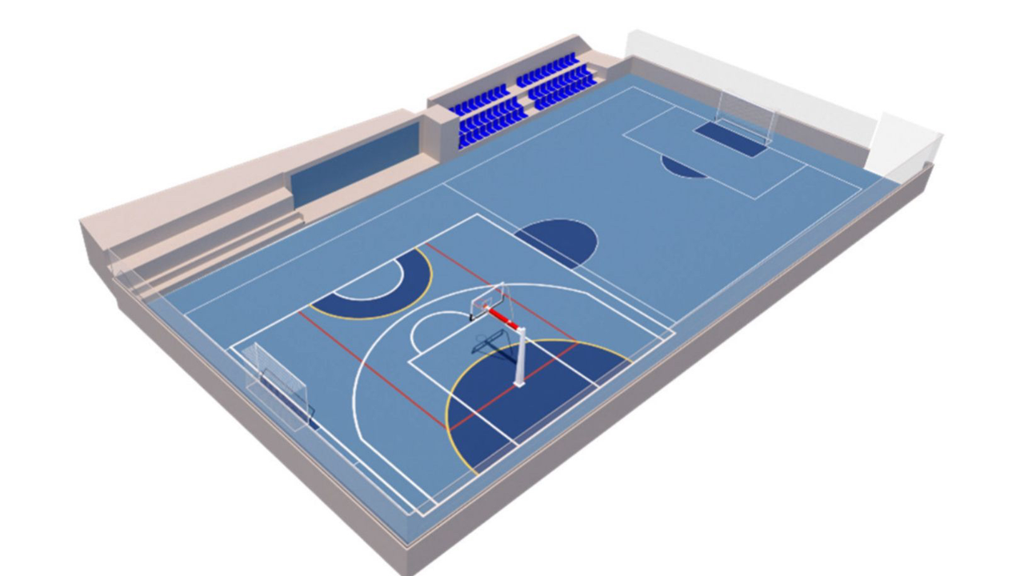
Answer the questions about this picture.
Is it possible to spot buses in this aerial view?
No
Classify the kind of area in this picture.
sports ground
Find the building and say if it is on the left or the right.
left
